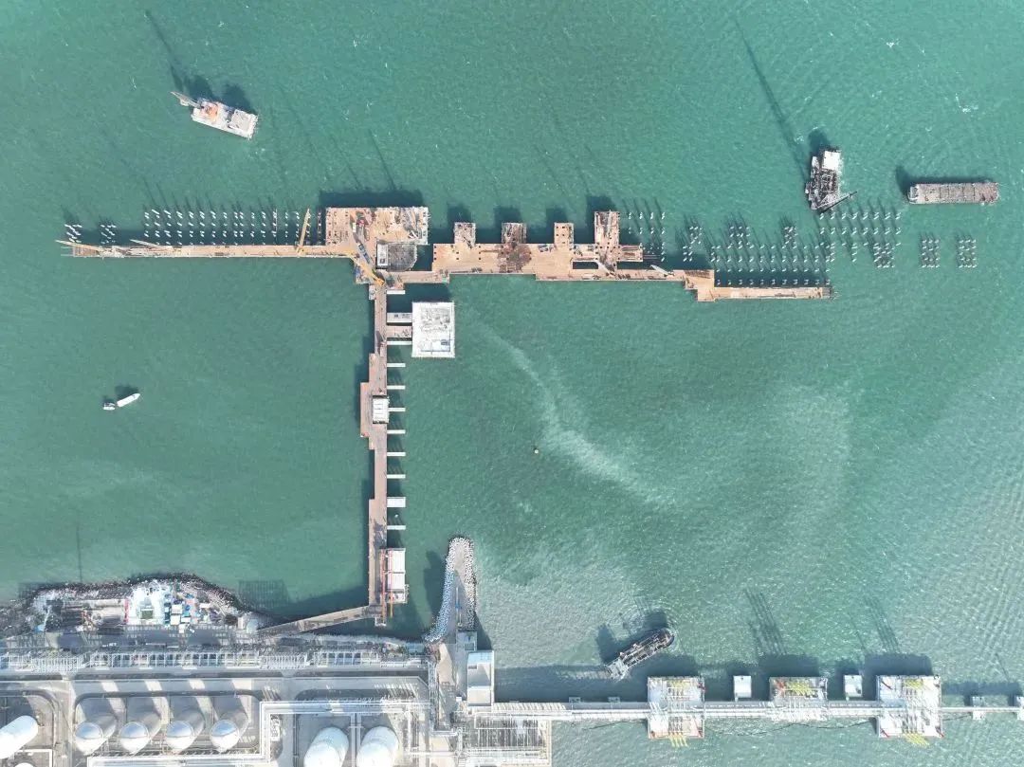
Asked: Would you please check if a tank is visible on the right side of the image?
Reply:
No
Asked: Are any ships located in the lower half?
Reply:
Yes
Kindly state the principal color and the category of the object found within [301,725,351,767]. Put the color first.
white storage tank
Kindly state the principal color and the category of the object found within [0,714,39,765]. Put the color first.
white storage tank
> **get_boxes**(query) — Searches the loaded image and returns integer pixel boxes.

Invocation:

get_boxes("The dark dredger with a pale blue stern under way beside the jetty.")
[610,630,677,686]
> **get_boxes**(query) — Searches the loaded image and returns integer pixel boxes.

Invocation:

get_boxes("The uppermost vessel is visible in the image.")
[170,91,255,137]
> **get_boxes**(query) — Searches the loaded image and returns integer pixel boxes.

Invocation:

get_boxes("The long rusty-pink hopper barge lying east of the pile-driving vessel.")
[909,181,1000,204]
